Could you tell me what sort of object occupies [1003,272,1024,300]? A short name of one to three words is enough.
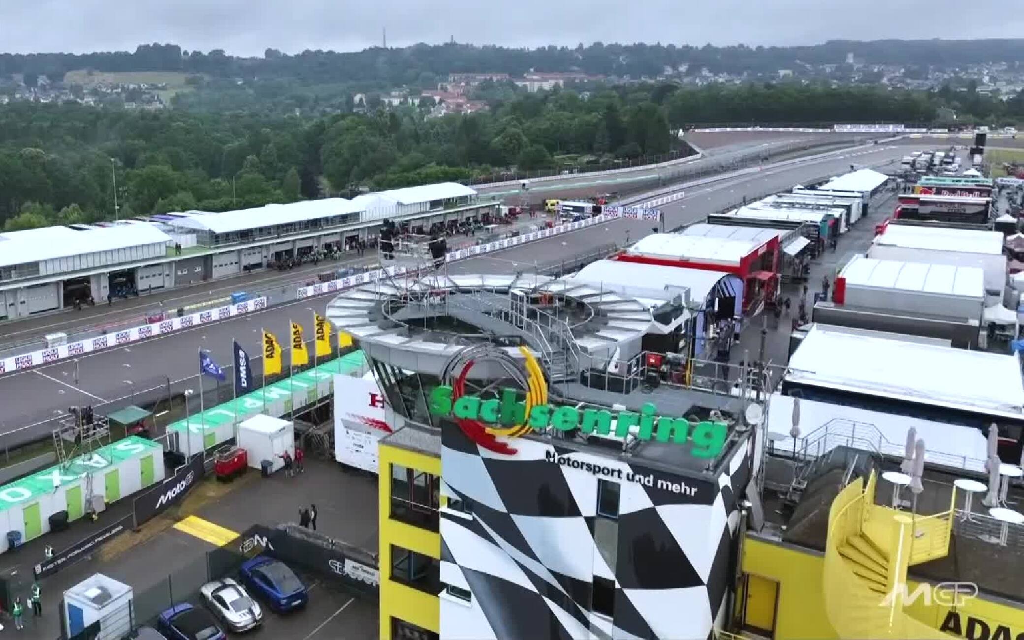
tent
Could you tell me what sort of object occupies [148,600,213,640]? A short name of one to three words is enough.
car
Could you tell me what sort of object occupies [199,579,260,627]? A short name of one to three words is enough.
car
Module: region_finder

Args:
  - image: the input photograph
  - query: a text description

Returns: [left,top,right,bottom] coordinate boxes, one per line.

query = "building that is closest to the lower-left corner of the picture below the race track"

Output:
[60,572,136,640]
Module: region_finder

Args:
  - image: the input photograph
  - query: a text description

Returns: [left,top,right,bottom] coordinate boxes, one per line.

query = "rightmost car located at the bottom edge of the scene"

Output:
[244,559,309,609]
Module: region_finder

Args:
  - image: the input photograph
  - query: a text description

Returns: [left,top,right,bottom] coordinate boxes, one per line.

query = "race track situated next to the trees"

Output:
[0,136,949,446]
